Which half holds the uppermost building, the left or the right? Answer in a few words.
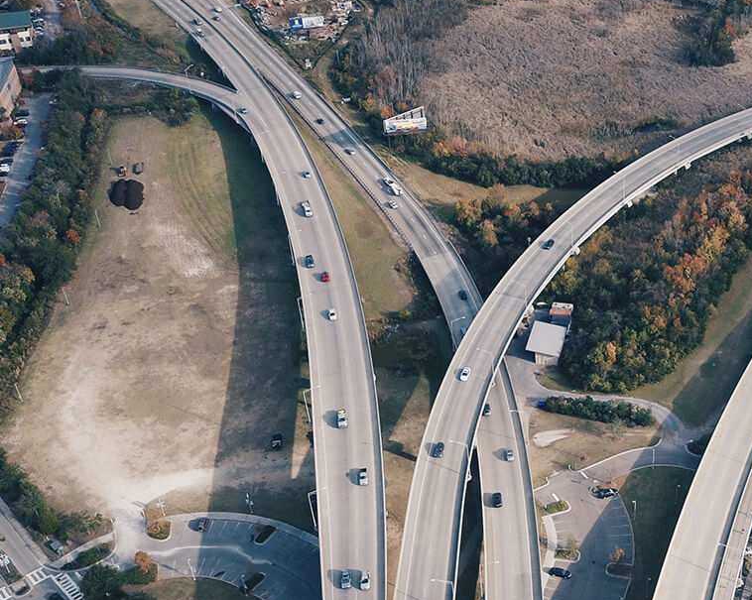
left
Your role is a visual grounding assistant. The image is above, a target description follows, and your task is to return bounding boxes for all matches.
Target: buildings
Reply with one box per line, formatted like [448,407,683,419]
[0,7,40,49]
[0,64,22,133]
[527,322,566,369]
